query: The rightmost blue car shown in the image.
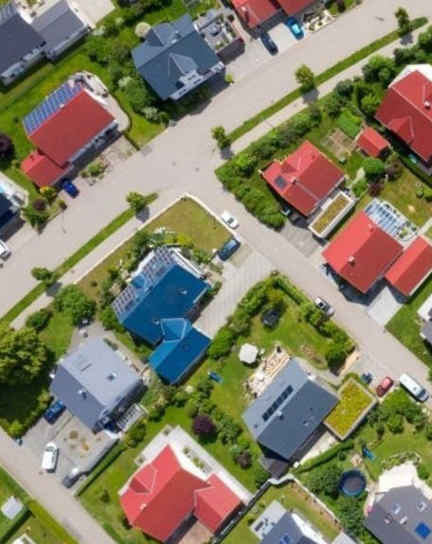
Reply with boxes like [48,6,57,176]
[285,17,304,37]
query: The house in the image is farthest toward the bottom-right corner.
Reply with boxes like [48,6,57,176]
[368,480,432,544]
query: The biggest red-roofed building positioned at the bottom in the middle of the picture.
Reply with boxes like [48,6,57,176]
[120,445,245,542]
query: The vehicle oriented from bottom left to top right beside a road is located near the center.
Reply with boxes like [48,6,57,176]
[217,238,240,260]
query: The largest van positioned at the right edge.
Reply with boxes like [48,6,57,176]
[396,371,430,403]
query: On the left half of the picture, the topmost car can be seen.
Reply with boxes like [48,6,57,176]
[60,177,82,197]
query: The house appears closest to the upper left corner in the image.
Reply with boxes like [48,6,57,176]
[0,0,92,82]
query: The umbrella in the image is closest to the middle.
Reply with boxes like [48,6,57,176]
[240,343,259,362]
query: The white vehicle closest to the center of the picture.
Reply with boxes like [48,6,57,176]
[220,209,241,229]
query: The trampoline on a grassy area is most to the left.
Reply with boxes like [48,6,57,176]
[259,309,278,326]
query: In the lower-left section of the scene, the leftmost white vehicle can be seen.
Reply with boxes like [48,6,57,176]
[40,442,58,471]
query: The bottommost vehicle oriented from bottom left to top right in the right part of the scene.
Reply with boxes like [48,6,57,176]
[374,375,395,397]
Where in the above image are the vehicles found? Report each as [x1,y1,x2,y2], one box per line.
[217,238,240,260]
[220,209,241,229]
[314,298,335,317]
[285,17,304,37]
[396,371,430,403]
[59,465,84,491]
[60,177,82,197]
[374,375,395,397]
[44,401,66,422]
[260,33,278,53]
[40,442,58,471]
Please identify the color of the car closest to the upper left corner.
blue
